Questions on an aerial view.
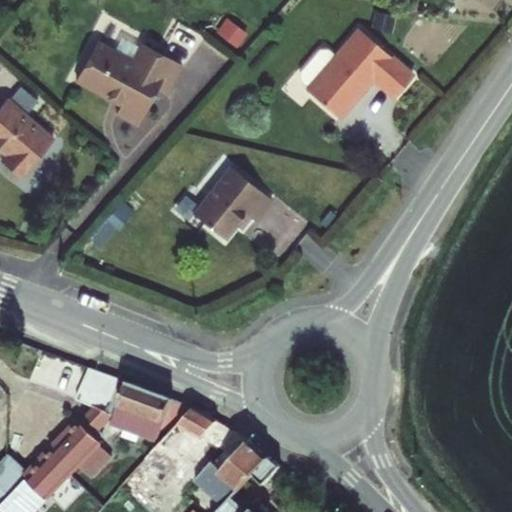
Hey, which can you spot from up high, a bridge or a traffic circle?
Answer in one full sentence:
The one in the frame is a traffic circle.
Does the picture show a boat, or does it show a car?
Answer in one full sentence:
It is a car that can be seen here.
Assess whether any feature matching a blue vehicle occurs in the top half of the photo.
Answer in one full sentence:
No, I see no blue vehicle in the top half of the photo.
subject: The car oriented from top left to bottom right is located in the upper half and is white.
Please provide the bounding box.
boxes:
[172,30,193,48]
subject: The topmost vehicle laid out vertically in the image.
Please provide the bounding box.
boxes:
[60,367,72,390]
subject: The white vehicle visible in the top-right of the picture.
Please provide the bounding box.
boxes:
[370,94,385,114]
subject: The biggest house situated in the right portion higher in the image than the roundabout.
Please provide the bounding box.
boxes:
[308,29,415,120]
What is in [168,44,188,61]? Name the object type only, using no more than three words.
car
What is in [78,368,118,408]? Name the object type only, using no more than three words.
building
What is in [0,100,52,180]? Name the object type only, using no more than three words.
house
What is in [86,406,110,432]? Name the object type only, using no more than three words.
shed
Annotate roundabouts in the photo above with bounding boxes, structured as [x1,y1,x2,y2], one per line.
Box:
[242,306,392,456]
